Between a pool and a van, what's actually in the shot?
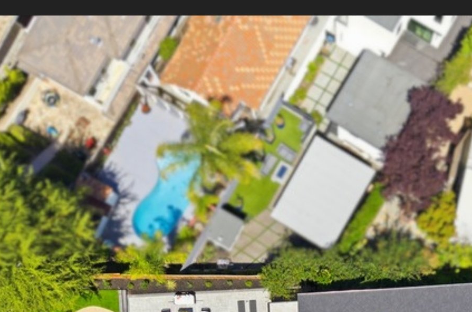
pool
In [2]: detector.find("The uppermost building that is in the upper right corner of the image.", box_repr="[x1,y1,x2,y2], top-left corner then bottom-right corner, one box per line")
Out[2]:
[335,15,458,66]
